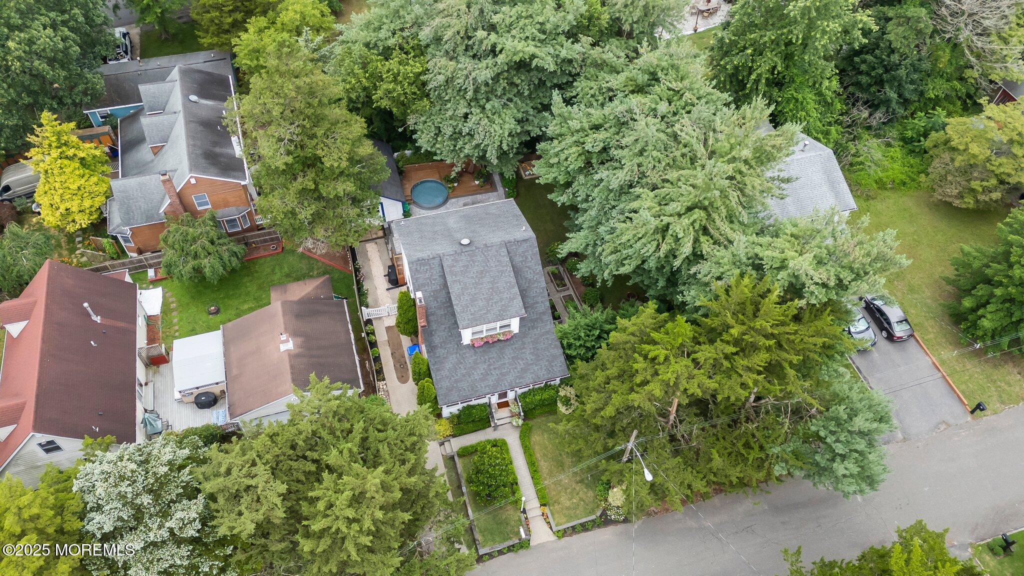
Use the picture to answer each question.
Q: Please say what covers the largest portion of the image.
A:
trees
